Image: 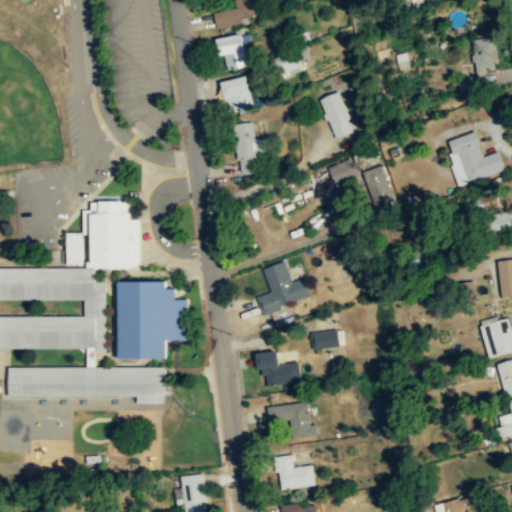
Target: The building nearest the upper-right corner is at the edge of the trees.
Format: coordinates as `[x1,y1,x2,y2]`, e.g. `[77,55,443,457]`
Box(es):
[474,38,502,75]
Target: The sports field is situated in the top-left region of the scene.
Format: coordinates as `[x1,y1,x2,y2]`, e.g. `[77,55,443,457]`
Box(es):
[0,40,64,166]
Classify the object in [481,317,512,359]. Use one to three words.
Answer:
house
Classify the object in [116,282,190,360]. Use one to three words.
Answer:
building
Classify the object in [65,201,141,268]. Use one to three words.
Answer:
building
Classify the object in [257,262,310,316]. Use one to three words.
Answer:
house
